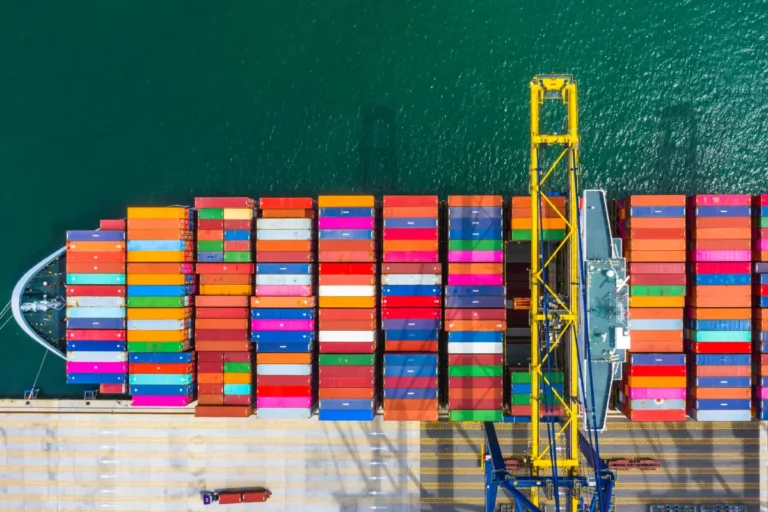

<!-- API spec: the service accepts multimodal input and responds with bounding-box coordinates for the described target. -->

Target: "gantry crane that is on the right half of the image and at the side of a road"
[483,76,618,512]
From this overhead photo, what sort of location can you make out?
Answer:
port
